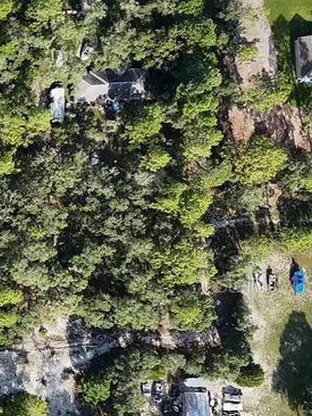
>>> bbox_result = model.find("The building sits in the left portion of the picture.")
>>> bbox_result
[71,68,146,106]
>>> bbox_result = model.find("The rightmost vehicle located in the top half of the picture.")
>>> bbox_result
[78,42,93,61]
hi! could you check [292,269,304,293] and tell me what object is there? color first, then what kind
blue vehicle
